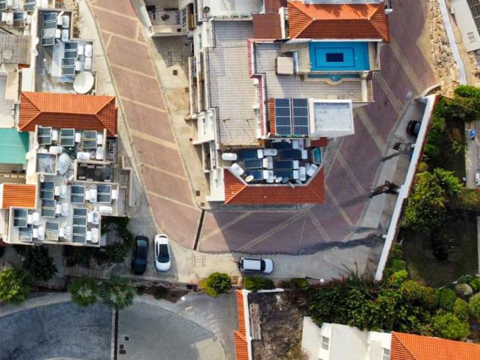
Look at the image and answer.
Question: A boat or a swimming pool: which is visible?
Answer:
swimming pool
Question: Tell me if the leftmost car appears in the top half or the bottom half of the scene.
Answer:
bottom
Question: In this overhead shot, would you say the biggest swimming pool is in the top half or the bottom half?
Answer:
top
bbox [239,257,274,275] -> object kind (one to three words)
car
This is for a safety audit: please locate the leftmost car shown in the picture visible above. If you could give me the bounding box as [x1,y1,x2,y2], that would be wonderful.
[129,235,151,274]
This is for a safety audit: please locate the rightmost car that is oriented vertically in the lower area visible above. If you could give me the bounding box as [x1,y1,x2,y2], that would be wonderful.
[154,233,172,272]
